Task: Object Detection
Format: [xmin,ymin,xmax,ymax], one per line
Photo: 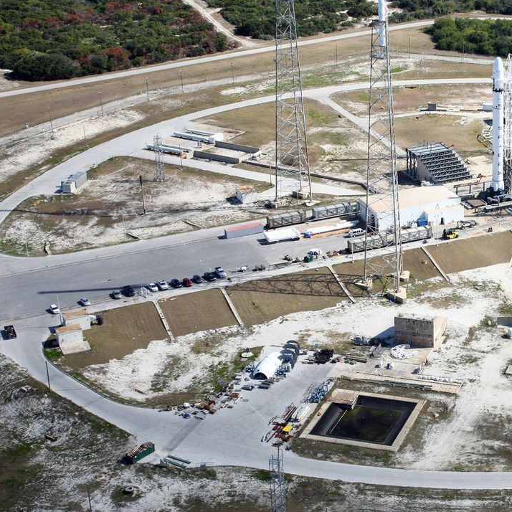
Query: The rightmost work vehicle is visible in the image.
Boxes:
[444,227,459,240]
